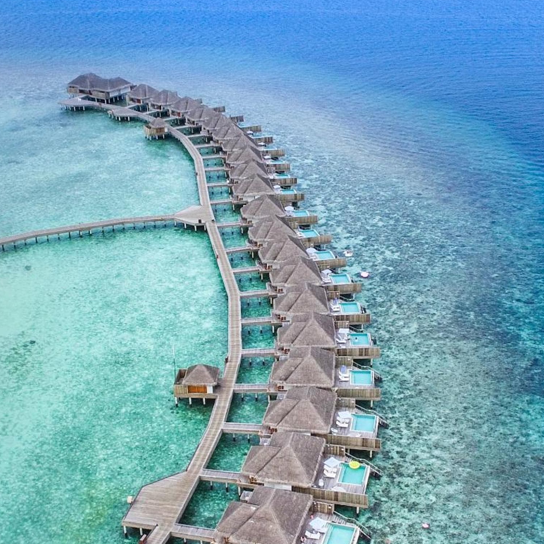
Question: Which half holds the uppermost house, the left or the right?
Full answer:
You can find the uppermost house on the left side of the picture.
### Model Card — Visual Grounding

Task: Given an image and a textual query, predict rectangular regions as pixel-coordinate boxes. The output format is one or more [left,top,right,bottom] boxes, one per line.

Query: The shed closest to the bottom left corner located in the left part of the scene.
[170,352,222,415]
